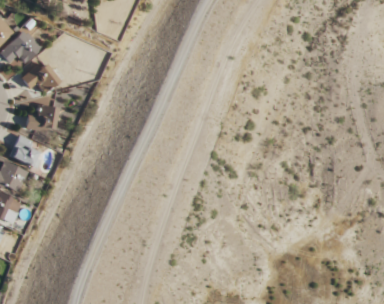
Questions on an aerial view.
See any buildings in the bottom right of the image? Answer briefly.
No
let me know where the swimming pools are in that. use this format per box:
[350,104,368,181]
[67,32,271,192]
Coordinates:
[19,208,32,221]
[43,149,56,173]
